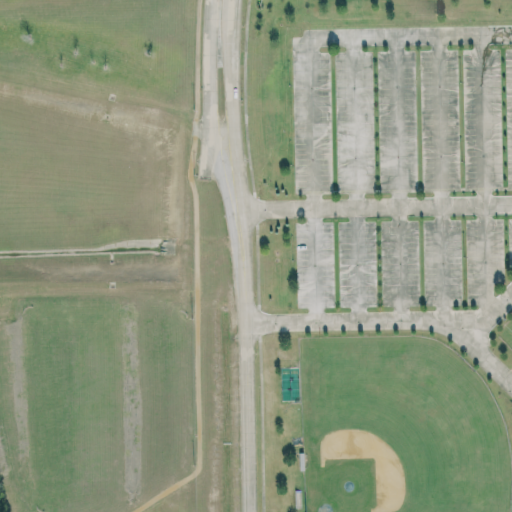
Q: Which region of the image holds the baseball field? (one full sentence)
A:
You can find the baseball field in the bottom right area of the picture.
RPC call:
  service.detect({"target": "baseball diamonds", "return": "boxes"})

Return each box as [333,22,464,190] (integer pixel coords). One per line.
[300,336,511,512]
